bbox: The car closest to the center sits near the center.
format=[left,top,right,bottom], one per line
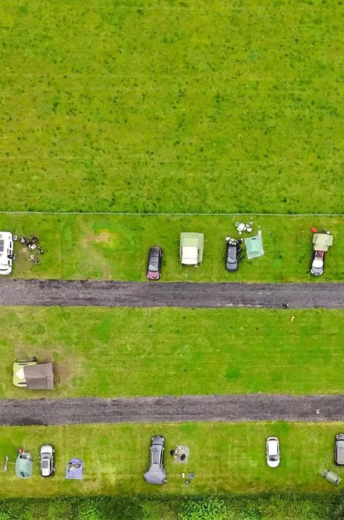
[146,246,163,280]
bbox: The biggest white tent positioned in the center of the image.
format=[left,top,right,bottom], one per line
[175,229,209,270]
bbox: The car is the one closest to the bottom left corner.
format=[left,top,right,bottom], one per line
[38,445,55,476]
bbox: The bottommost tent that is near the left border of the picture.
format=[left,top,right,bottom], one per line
[9,453,33,482]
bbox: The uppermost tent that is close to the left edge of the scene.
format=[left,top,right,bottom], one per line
[10,361,40,388]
